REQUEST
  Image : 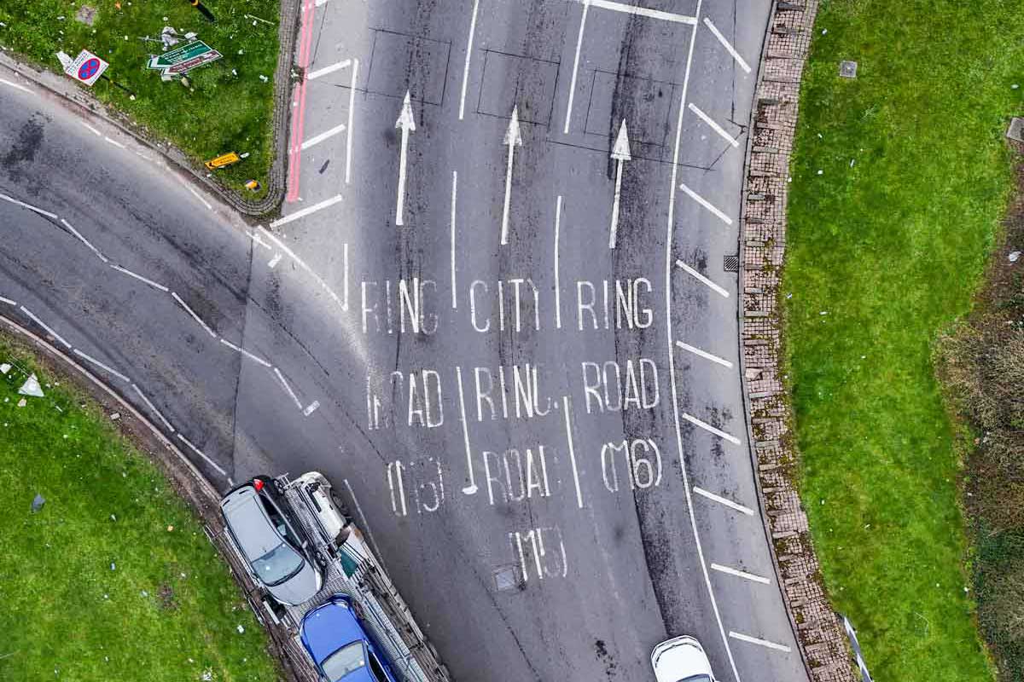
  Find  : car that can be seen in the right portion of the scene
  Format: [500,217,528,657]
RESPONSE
[653,635,717,682]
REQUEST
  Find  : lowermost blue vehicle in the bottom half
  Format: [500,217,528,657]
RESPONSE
[301,599,407,682]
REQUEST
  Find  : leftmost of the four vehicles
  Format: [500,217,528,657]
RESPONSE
[219,476,329,605]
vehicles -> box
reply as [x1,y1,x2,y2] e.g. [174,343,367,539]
[220,471,446,682]
[653,635,717,682]
[219,476,329,605]
[301,599,407,682]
